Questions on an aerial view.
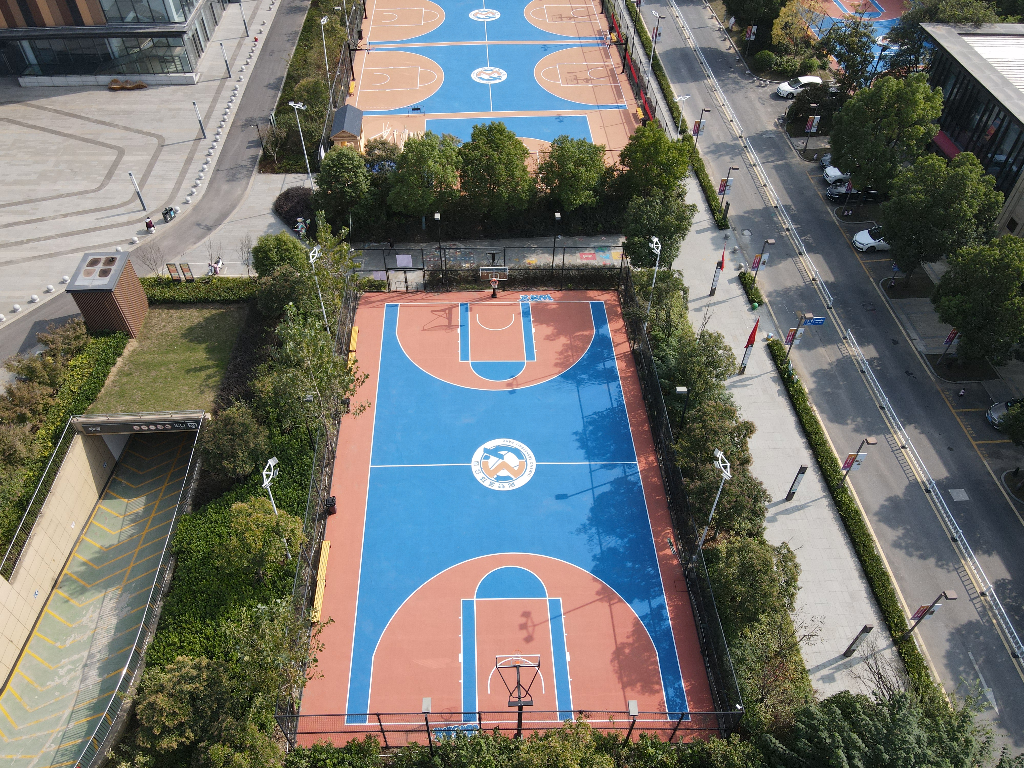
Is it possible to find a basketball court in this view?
Yes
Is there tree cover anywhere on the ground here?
Yes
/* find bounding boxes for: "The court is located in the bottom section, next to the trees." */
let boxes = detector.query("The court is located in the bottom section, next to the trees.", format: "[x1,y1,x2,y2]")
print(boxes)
[294,289,722,749]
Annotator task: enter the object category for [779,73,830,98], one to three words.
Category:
car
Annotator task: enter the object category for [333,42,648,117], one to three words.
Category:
basketball court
